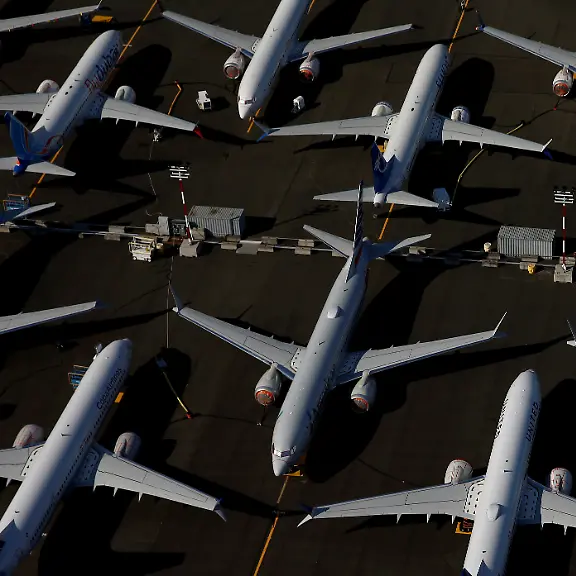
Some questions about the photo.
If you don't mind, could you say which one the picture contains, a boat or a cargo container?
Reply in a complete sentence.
The image shows a cargo container.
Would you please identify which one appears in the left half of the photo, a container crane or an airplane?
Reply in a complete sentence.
Visible in the left half of the photo is an airplane.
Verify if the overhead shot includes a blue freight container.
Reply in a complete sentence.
No, I can see no blue freight container in this picture.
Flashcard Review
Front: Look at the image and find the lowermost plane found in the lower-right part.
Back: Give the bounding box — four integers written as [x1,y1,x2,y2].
[297,372,576,576]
